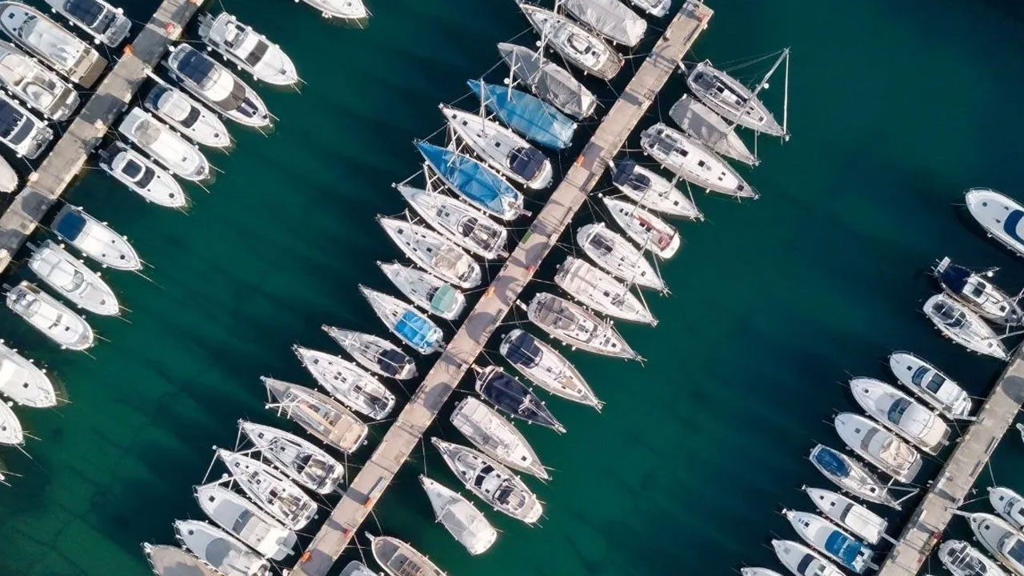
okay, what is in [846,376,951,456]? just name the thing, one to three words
boat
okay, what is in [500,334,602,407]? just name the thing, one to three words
boat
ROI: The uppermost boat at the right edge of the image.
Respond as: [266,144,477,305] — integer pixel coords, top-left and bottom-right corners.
[961,190,1024,263]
